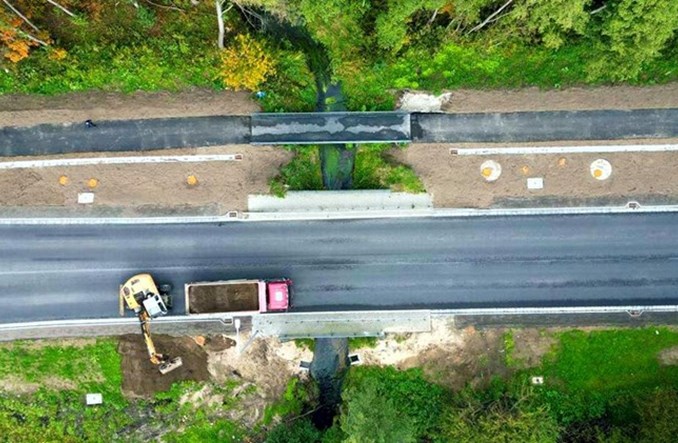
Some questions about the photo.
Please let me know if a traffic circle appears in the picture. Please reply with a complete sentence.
No, there isn't any traffic circle down there.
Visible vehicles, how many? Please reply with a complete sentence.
Altogether the scene contains 2 vehicles.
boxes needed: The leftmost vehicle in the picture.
[117,272,183,374]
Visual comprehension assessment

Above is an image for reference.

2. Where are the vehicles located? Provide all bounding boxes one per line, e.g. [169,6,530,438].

[117,272,183,374]
[181,276,295,317]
